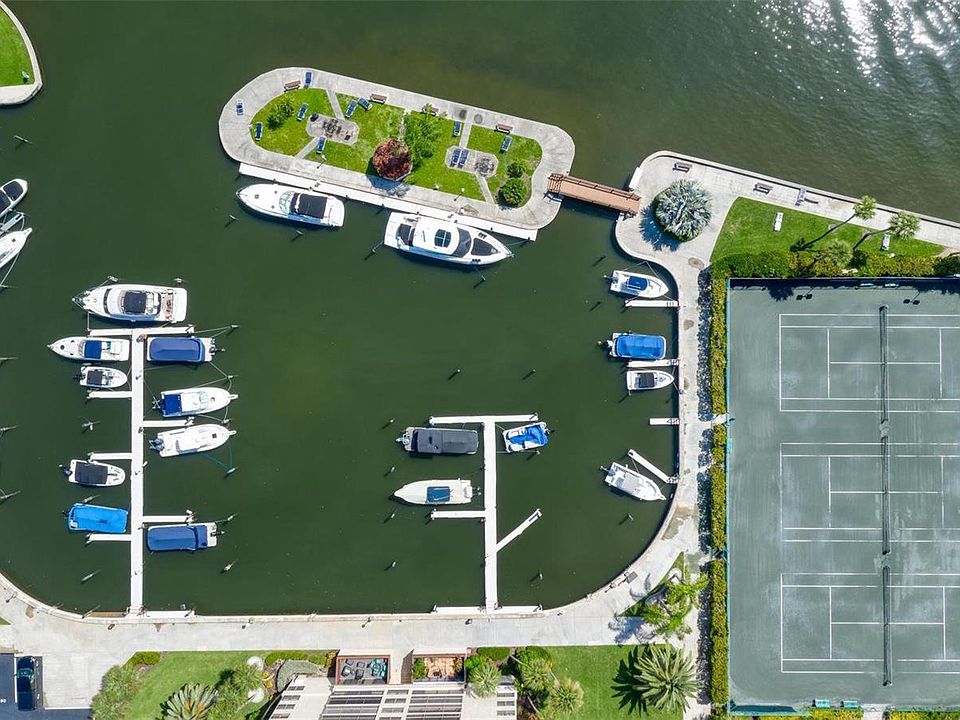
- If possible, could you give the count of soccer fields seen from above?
none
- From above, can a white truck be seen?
No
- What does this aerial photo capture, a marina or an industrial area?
marina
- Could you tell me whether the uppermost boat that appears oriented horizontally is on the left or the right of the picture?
left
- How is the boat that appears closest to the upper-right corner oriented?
from left to right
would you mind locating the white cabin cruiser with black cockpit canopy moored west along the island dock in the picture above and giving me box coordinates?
[234,182,347,224]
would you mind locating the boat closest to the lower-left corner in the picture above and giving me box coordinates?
[64,502,131,533]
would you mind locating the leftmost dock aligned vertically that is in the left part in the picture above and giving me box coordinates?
[89,325,196,616]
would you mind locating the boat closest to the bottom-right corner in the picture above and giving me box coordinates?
[602,463,666,501]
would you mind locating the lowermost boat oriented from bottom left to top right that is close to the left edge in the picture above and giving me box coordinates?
[0,229,29,276]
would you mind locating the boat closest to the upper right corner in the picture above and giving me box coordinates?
[604,271,668,295]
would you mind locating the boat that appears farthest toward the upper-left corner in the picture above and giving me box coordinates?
[0,181,28,223]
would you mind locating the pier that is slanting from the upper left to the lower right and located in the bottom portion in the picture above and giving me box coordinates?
[629,449,677,484]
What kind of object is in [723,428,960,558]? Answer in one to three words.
tennis court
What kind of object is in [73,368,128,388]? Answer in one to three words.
boat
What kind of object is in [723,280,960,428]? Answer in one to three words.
tennis court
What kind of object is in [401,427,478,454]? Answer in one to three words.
boat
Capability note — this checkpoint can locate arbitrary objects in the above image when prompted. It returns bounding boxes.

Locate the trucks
[14,655,39,709]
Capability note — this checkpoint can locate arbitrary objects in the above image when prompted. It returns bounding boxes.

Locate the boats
[70,281,190,320]
[154,387,235,415]
[153,425,234,455]
[45,336,131,361]
[503,421,551,448]
[64,502,131,533]
[62,460,126,486]
[0,229,29,276]
[146,521,225,550]
[73,368,128,388]
[146,338,221,362]
[606,334,667,359]
[395,480,479,505]
[382,211,517,262]
[604,271,668,295]
[234,182,347,224]
[602,463,666,501]
[401,427,478,454]
[0,181,28,223]
[624,369,674,389]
